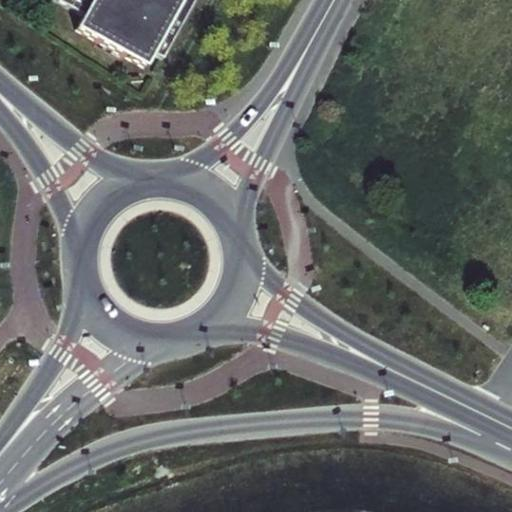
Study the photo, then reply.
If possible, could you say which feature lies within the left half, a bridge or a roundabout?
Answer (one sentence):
The feature located within the left half is a roundabout.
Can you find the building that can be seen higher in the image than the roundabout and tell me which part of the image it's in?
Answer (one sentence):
The building that can be seen higher in the image than the roundabout appears toward the top left of the photo.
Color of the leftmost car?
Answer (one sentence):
In this view, the leftmost car is white.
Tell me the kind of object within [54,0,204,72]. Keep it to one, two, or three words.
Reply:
building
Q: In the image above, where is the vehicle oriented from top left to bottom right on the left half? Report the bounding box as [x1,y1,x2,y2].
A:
[100,295,120,318]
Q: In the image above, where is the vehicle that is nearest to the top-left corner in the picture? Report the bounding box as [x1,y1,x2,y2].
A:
[241,106,258,128]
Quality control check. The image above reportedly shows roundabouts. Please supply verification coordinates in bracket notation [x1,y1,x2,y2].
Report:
[40,132,288,388]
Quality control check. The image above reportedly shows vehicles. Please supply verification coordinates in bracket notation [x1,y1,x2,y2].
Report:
[241,106,258,128]
[100,295,120,318]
